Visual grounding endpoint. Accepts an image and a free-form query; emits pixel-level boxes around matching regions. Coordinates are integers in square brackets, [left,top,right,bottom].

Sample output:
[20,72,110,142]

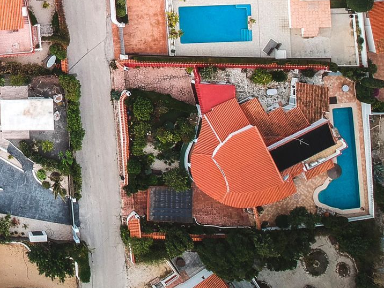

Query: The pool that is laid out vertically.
[314,103,367,215]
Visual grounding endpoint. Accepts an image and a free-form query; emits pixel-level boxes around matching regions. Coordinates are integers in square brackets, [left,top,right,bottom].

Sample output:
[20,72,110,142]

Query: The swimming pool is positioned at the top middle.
[177,2,255,46]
